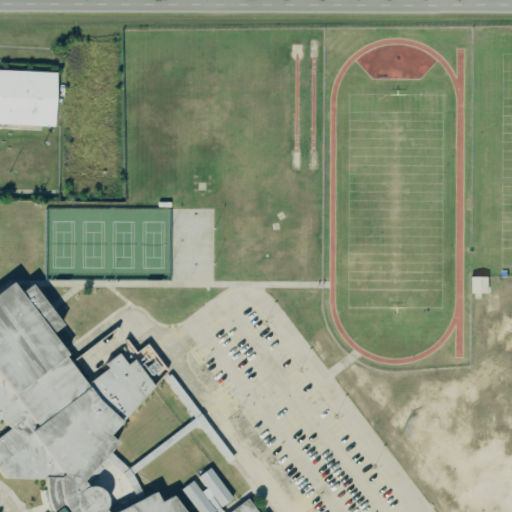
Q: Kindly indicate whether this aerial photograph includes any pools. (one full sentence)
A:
No, no pool is visible in the view.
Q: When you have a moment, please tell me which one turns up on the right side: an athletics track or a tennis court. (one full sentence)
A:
It is an athletics track that can be seen on the right side.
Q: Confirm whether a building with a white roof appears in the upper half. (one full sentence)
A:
Yes, there is a building with a white roof in the upper half.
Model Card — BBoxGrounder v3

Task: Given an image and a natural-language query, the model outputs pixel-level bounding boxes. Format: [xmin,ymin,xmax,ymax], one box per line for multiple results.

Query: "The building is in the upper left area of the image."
[0,70,60,128]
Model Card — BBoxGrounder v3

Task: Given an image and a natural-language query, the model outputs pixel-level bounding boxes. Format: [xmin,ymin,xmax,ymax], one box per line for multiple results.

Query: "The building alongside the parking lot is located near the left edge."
[0,282,156,512]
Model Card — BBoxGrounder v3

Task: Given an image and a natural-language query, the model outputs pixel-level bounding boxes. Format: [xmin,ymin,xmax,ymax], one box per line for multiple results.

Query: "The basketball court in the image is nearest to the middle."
[172,208,214,281]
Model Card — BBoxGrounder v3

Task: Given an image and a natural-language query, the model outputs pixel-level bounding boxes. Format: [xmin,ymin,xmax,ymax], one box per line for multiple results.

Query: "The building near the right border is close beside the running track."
[470,276,492,299]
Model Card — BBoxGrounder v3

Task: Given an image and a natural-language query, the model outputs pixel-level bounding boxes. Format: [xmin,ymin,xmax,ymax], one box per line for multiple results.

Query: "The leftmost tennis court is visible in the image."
[48,208,79,278]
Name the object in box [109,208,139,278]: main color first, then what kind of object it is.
green tennis court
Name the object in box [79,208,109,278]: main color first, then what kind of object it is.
green tennis court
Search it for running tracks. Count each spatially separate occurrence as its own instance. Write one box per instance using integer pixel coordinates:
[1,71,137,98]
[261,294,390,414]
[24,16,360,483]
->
[330,38,464,365]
